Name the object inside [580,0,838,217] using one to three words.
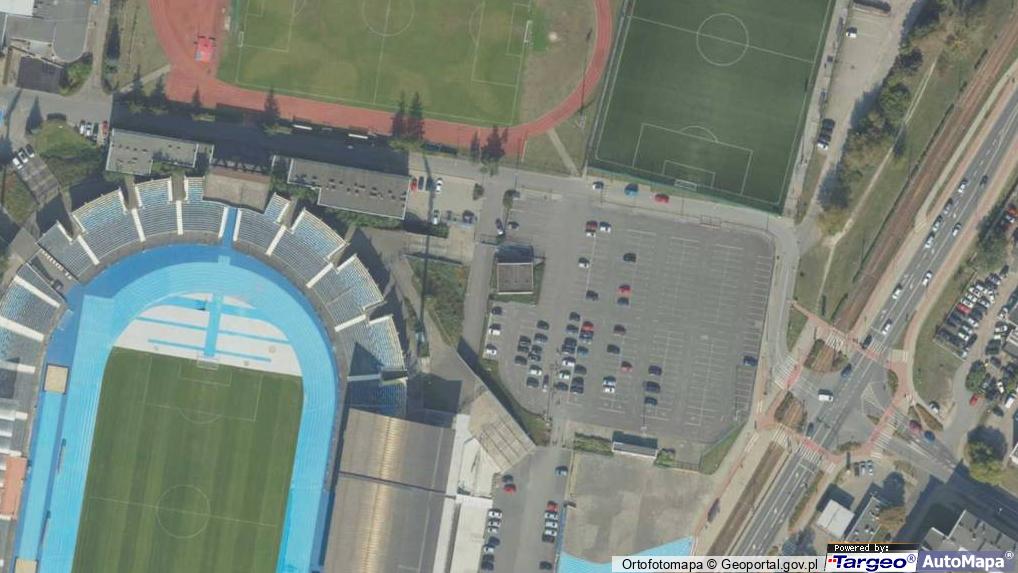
soccer field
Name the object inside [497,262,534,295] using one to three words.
building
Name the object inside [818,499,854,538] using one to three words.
shed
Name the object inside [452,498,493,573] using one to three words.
building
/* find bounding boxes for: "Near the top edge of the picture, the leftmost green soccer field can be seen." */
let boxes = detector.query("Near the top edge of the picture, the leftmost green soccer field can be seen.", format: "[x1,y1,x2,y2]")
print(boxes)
[235,0,532,122]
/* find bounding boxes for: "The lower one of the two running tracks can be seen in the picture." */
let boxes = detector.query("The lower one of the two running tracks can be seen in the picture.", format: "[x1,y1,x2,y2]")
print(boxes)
[10,243,338,573]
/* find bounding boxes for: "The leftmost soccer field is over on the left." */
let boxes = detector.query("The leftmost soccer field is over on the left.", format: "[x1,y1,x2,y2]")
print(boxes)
[70,346,304,573]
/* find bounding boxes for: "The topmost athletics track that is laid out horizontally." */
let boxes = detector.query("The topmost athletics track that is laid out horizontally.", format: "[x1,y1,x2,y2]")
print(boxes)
[147,0,613,157]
